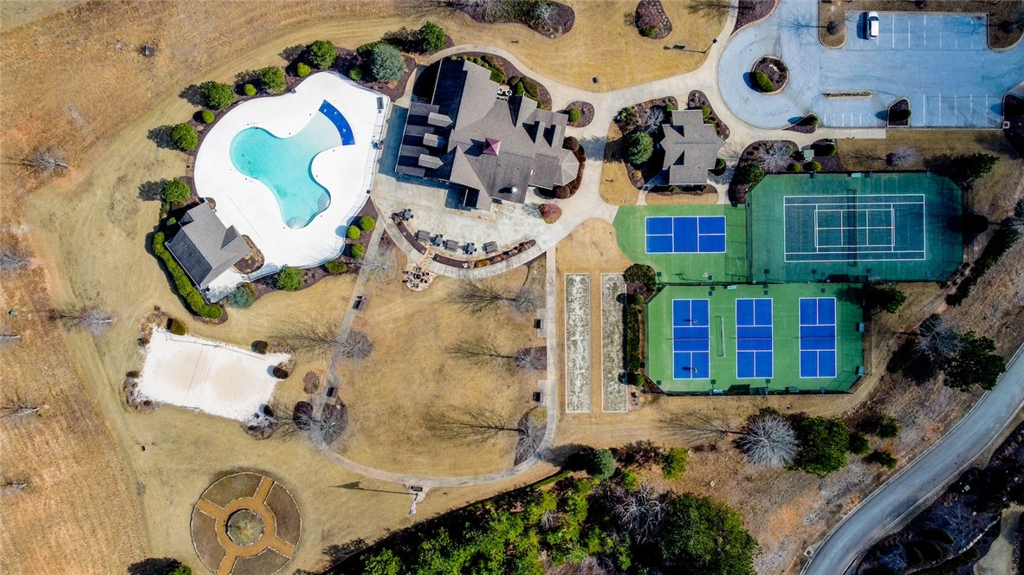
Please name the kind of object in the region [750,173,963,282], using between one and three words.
tennis court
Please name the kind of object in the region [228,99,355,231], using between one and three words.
swimming pool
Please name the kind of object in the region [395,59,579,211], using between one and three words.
building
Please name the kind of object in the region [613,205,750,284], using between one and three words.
sports court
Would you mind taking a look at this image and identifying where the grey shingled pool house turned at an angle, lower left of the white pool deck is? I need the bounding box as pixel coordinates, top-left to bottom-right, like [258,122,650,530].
[165,202,256,289]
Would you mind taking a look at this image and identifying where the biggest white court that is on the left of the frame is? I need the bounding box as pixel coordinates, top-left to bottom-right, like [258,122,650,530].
[136,325,291,421]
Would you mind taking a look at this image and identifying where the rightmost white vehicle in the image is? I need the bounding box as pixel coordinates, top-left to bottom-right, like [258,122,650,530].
[867,9,883,38]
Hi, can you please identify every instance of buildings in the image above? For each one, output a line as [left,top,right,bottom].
[659,110,726,187]
[395,59,579,211]
[165,202,256,289]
